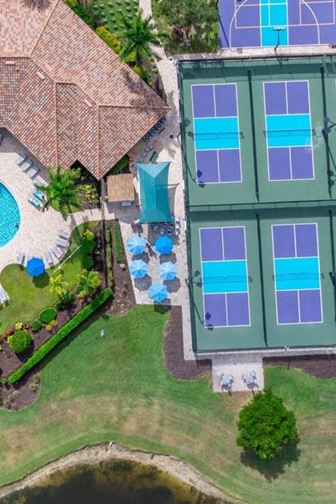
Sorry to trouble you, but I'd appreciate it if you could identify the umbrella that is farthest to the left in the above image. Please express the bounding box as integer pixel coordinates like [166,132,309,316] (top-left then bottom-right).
[25,258,44,276]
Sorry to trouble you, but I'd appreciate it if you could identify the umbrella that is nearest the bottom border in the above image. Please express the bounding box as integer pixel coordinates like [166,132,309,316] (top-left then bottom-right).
[148,282,167,301]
